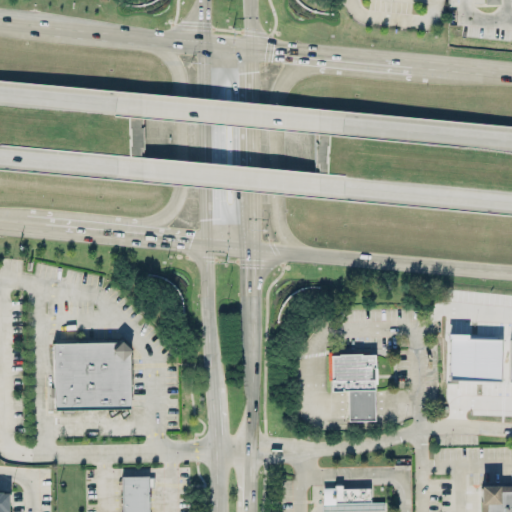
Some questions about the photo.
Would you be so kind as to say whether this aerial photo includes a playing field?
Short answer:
No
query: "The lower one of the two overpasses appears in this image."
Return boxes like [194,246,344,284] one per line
[116,155,344,200]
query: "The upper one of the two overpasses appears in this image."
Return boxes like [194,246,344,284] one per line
[116,90,344,136]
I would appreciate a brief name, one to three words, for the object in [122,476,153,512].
building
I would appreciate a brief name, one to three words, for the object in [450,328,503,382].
building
